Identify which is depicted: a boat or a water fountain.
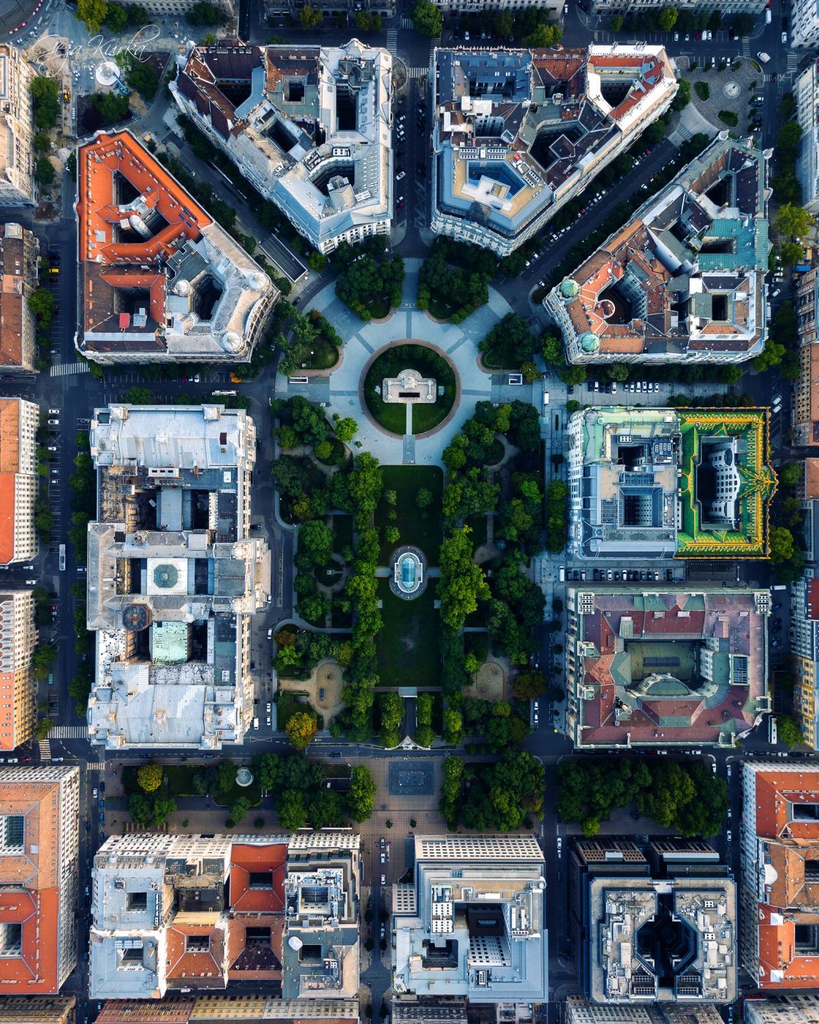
water fountain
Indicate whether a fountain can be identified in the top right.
Yes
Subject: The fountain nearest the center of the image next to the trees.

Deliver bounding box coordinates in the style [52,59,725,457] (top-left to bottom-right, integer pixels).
[390,546,428,600]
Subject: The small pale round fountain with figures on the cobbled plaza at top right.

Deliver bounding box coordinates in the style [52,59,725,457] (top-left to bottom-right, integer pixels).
[723,81,741,98]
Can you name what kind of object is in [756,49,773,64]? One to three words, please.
vehicle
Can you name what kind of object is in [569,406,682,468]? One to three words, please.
building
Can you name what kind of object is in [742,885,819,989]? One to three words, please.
building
